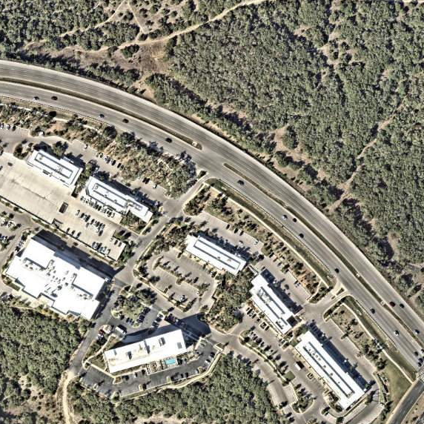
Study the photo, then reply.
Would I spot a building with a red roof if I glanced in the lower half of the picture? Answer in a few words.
No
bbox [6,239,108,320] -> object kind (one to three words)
building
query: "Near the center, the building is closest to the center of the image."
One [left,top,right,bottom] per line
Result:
[183,235,247,276]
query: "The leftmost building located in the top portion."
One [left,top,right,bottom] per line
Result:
[27,149,82,189]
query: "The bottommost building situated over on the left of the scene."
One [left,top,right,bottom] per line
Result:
[103,330,187,373]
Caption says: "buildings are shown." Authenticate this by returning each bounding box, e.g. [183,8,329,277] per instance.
[294,331,365,410]
[85,176,154,224]
[103,330,187,373]
[250,273,293,335]
[183,235,247,276]
[6,239,108,320]
[27,149,82,189]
